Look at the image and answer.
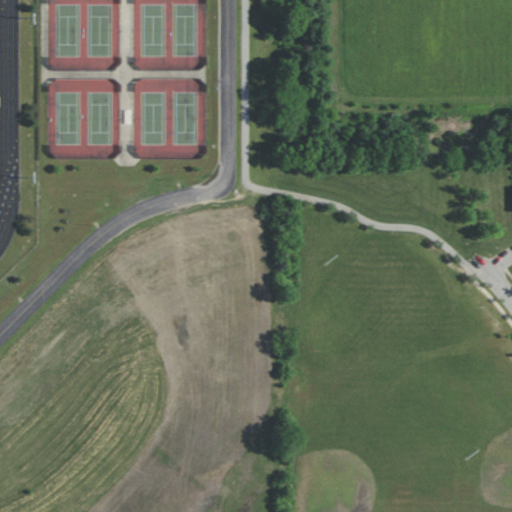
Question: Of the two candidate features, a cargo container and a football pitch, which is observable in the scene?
football pitch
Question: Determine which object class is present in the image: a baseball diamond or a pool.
baseball diamond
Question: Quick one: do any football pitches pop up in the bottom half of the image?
Yes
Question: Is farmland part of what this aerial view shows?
Yes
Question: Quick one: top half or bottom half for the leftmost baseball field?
bottom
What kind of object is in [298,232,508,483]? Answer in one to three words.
soccer field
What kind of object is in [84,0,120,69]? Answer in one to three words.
tennis court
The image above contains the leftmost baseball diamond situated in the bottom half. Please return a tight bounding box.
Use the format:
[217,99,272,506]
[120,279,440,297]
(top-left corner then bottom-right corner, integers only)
[296,449,375,512]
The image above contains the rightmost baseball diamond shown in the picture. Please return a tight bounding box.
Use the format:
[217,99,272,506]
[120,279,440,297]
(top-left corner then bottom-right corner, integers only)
[481,427,512,508]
